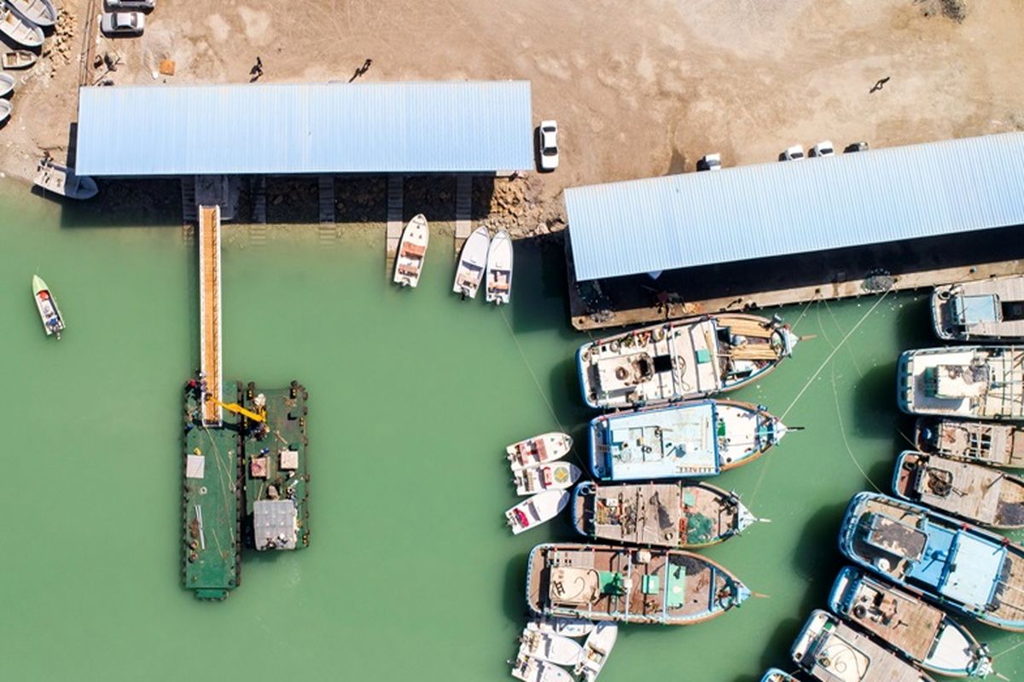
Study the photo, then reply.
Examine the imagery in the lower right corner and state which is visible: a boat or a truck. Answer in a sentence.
There is a boat in the lower right corner.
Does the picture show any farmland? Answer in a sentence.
No, no farmland is visible.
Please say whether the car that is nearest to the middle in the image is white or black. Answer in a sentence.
The color of the car that is nearest to the middle is white.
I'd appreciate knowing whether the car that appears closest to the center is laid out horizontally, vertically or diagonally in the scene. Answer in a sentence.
The car that appears closest to the center has been laid out vertically relative to the frame.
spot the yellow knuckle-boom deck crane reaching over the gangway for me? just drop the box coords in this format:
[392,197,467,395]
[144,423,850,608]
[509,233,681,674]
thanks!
[201,392,270,429]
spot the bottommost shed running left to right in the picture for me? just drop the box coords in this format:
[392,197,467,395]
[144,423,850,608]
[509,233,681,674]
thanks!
[563,131,1024,281]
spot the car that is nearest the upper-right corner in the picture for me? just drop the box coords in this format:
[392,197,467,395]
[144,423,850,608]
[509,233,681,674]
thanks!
[852,136,872,153]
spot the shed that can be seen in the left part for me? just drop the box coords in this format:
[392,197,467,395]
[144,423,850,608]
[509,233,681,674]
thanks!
[75,80,534,179]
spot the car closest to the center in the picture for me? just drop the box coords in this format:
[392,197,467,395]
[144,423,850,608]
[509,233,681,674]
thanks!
[538,117,560,167]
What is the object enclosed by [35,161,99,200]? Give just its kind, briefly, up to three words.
boat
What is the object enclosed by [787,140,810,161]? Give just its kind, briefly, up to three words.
car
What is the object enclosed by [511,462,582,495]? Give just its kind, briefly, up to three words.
boat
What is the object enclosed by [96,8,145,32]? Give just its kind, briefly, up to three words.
car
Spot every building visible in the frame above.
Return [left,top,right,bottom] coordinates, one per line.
[563,131,1024,281]
[75,80,534,179]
